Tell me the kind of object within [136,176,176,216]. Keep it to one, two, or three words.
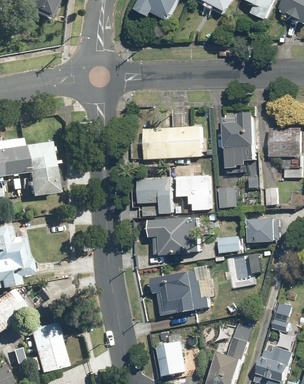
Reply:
house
